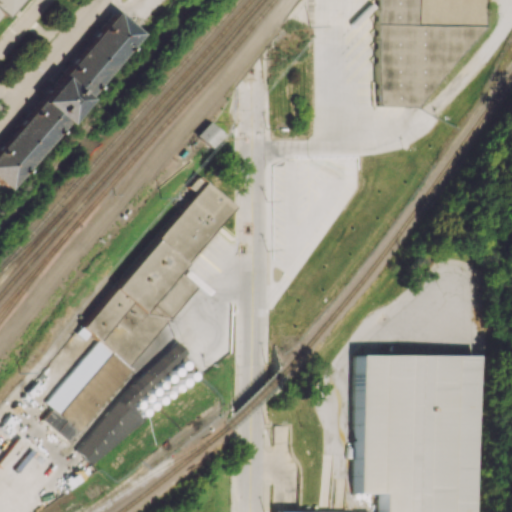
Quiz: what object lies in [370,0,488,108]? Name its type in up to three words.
building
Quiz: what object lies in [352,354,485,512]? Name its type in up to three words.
warehouse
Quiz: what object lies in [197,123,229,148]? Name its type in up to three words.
shed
